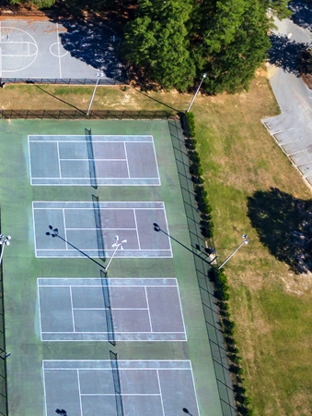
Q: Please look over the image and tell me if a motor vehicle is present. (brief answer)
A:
No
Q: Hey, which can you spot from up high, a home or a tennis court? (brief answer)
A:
tennis court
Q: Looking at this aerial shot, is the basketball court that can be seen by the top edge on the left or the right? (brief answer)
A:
left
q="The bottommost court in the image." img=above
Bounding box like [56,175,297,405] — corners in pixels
[43,359,200,416]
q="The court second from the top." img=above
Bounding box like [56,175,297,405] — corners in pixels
[28,135,161,185]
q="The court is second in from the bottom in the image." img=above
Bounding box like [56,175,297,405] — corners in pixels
[37,278,187,340]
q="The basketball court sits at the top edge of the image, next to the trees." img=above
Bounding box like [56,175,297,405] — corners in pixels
[0,13,131,82]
